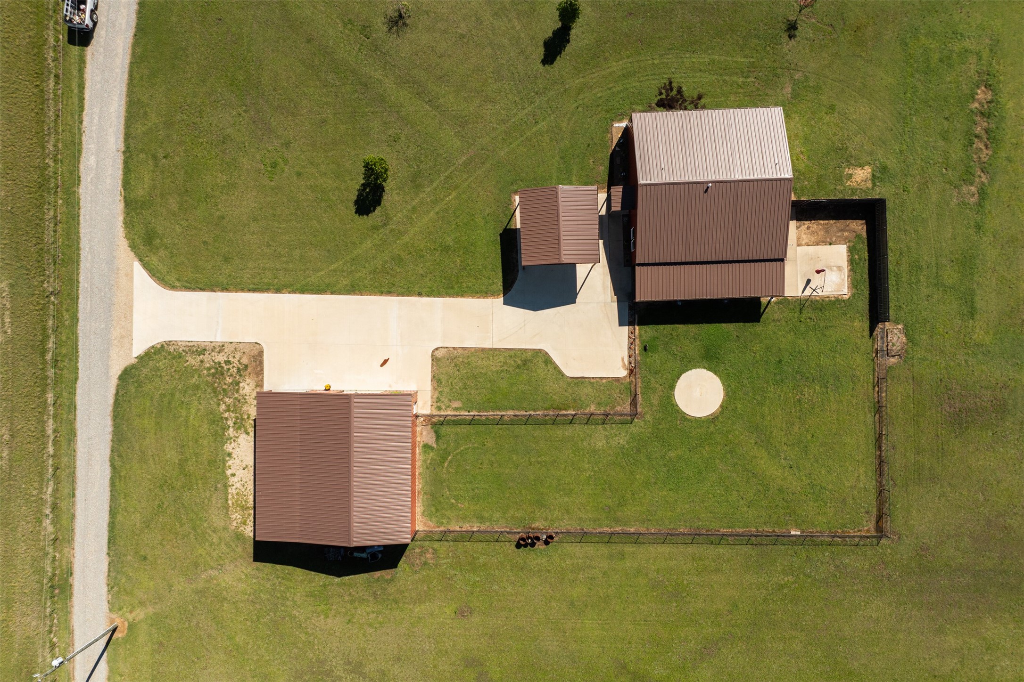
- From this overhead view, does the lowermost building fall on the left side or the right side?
left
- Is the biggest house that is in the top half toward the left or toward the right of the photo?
right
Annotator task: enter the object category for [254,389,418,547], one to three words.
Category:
building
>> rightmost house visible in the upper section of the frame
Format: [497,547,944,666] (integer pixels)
[608,106,793,303]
